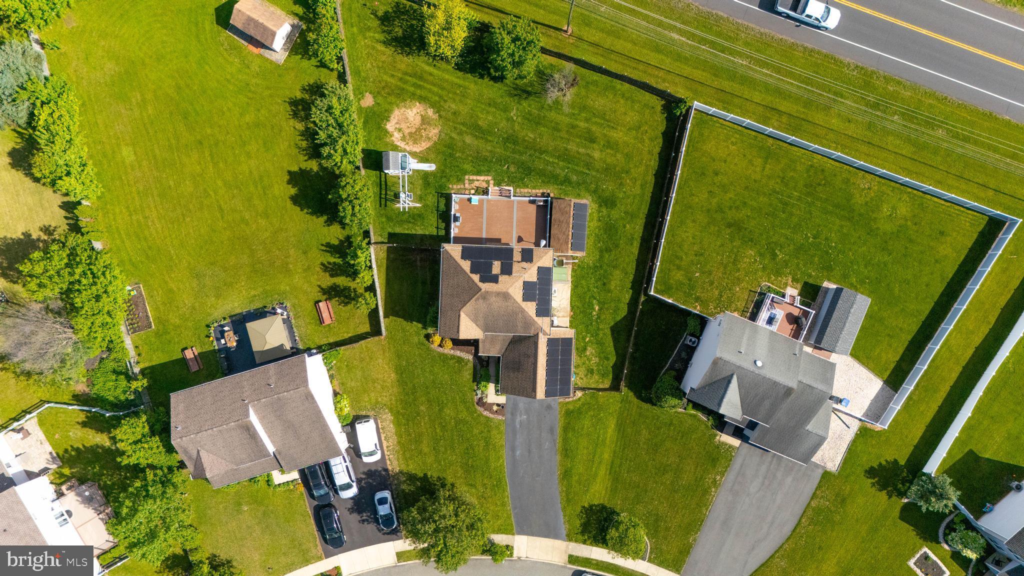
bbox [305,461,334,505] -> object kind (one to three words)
car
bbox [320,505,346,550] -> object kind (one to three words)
car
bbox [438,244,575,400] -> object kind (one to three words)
house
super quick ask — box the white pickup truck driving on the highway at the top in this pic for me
[774,0,838,31]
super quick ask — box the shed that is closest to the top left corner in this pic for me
[230,0,295,53]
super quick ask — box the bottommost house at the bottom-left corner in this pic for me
[0,439,102,576]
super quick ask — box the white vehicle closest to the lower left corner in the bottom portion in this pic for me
[329,450,359,499]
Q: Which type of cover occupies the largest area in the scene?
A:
grass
